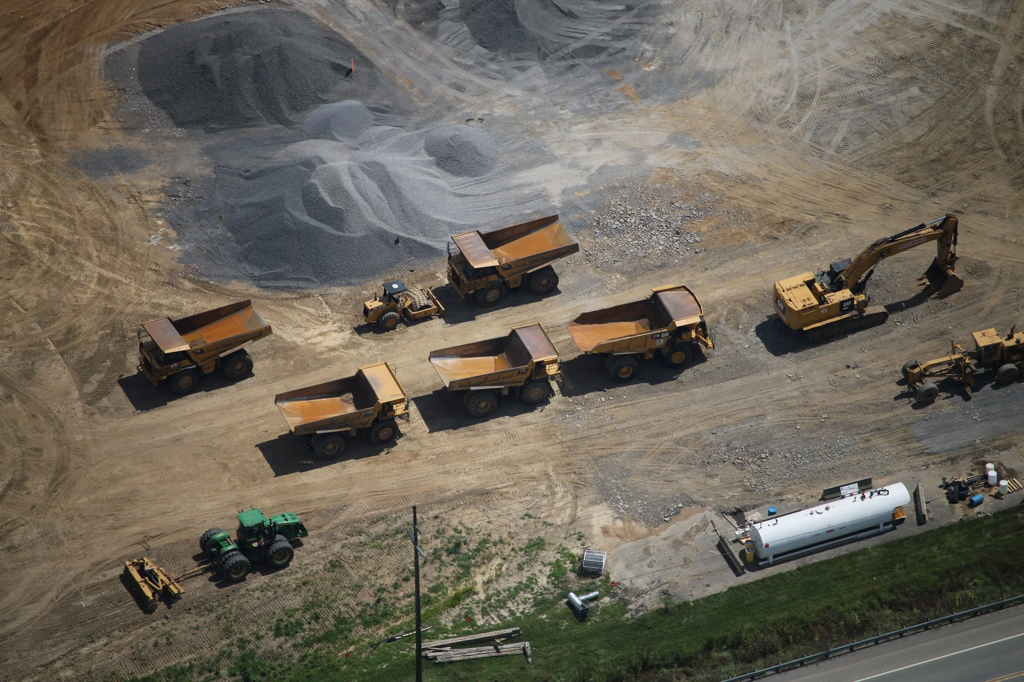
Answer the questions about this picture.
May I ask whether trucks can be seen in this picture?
Yes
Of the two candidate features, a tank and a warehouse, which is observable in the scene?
tank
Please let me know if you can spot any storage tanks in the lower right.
Yes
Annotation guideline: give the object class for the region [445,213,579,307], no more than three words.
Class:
truck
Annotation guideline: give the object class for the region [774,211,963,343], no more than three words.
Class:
work vehicle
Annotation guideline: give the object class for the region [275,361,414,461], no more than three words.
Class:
truck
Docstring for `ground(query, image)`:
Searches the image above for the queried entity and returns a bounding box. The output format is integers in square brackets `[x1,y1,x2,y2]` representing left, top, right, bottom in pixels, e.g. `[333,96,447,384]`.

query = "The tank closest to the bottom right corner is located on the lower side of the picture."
[732,483,914,565]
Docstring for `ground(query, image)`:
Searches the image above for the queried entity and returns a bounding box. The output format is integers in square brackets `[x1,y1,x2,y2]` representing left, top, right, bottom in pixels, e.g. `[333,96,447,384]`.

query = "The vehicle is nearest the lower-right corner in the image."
[902,322,1024,403]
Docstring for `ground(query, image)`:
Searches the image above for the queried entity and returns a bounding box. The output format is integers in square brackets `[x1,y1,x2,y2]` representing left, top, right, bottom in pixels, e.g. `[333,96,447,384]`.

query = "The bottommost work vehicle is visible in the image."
[199,506,308,585]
